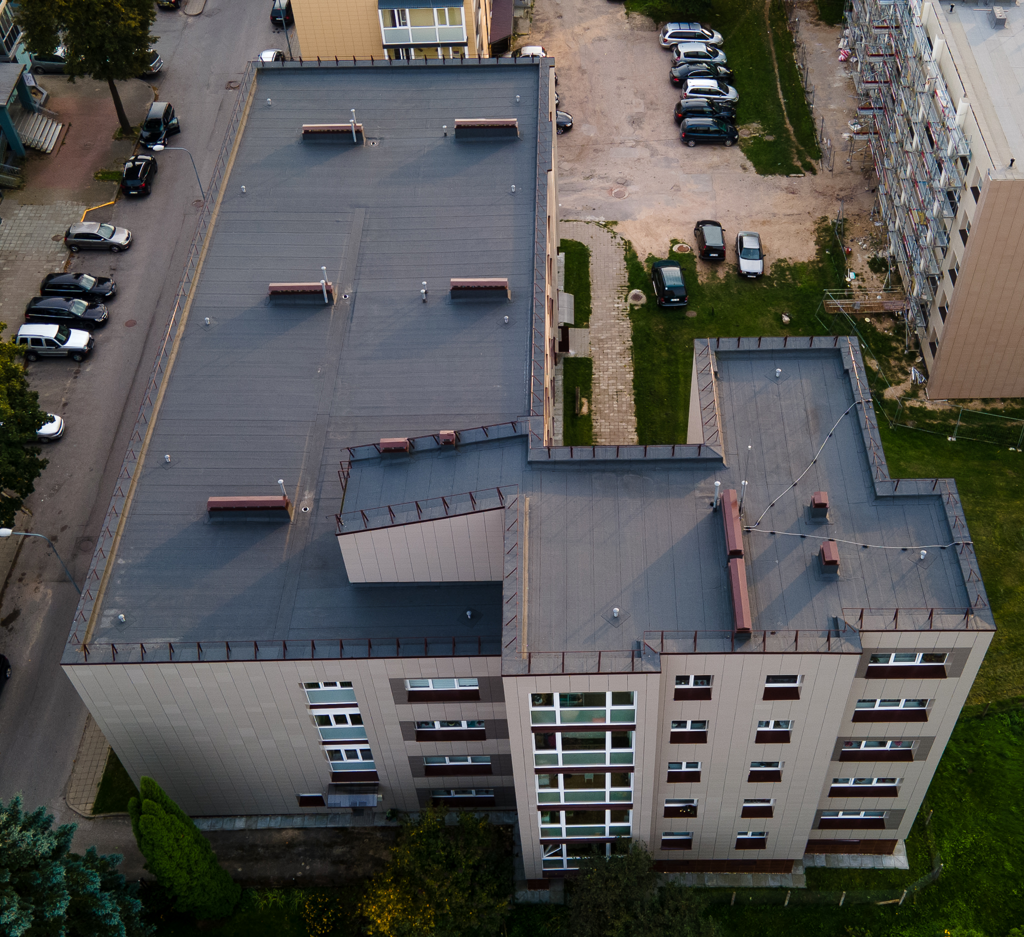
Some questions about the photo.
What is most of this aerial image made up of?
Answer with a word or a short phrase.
buildings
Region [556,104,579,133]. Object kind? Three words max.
car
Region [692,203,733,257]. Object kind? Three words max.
car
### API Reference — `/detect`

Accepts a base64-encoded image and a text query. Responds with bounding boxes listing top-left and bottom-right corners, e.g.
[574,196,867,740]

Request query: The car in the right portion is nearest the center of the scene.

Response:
[650,246,690,304]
